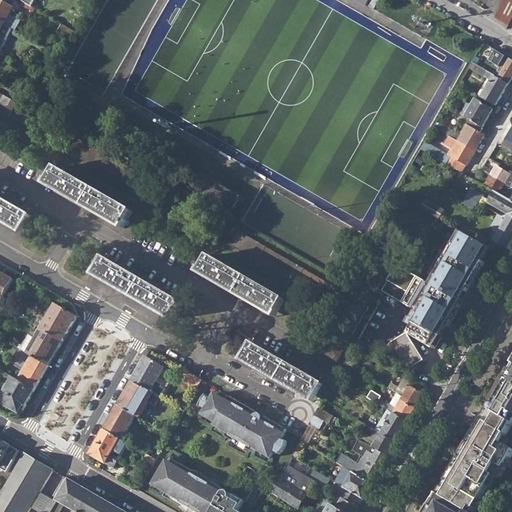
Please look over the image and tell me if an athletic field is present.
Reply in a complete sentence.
Yes, an athletic field can be made out from above.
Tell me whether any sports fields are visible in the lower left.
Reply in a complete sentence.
No, I see no sports field in the lower left.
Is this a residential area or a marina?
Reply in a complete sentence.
The area seen from above is a residential area.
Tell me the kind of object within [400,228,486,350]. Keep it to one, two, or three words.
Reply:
building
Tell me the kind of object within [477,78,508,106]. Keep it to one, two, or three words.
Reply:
house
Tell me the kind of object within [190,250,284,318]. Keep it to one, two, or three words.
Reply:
building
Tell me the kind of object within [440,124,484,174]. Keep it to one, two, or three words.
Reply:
house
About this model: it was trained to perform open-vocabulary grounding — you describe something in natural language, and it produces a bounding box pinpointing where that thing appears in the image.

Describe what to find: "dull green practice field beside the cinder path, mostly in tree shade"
[66,0,157,96]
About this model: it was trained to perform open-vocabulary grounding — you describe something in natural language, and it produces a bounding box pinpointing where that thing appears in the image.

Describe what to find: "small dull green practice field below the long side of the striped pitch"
[242,186,346,266]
